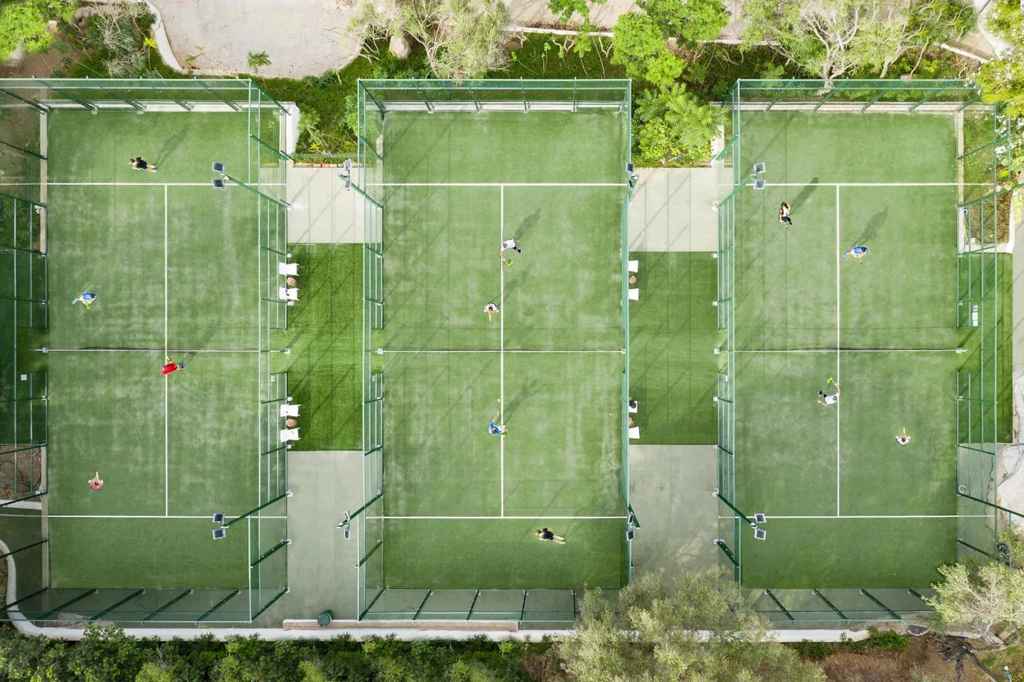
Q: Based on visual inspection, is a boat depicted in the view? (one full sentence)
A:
No, the scene contains no boat.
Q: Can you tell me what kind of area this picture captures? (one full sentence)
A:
The picture captures a sports ground.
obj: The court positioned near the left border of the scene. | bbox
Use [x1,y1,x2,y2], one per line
[47,110,287,589]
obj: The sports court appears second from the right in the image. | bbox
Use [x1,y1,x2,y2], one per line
[382,110,623,589]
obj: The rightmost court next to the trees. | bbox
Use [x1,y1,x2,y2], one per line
[718,110,958,589]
